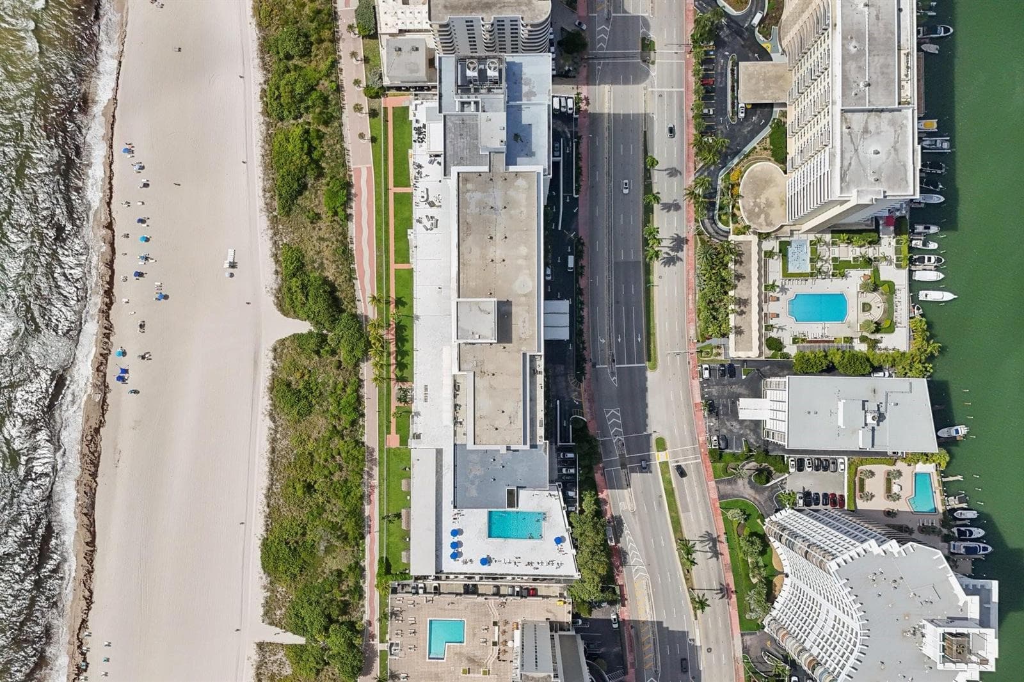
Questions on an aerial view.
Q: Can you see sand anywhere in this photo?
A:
Yes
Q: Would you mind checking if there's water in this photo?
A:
Yes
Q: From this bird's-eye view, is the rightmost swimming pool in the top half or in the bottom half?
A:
bottom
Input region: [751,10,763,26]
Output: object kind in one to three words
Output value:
vehicle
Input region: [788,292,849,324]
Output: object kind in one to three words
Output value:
swimming pool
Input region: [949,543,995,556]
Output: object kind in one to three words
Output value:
boat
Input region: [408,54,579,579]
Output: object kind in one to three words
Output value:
building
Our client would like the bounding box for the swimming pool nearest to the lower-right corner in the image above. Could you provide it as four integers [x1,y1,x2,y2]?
[906,471,938,514]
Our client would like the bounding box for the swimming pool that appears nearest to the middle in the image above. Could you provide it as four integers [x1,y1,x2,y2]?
[486,509,545,540]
